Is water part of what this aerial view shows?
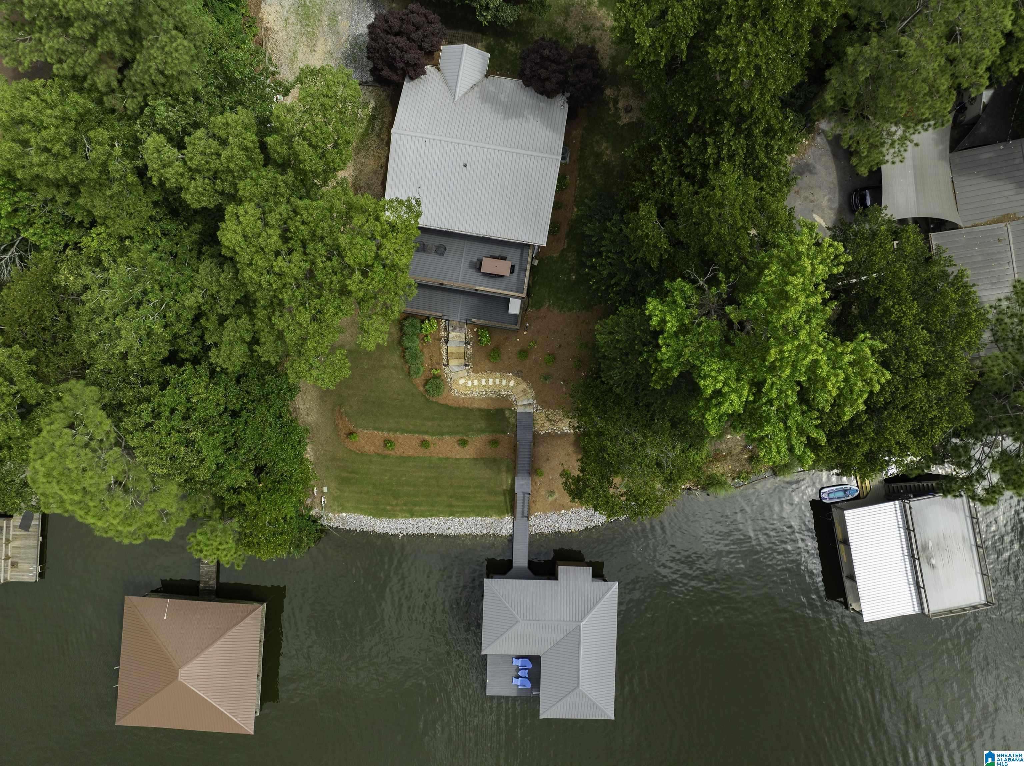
Yes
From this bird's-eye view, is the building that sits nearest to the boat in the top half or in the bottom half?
bottom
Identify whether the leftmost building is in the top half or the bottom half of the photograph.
bottom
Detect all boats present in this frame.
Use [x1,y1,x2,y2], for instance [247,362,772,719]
[818,483,860,504]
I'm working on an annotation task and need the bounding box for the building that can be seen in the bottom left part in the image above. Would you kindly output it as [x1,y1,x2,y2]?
[114,592,267,737]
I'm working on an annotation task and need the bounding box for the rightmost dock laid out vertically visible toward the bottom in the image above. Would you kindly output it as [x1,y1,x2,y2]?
[200,533,220,599]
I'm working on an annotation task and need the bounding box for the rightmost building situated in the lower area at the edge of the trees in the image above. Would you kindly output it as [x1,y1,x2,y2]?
[828,490,994,623]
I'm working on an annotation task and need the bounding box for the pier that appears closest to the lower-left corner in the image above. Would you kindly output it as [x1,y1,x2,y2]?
[0,511,51,583]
